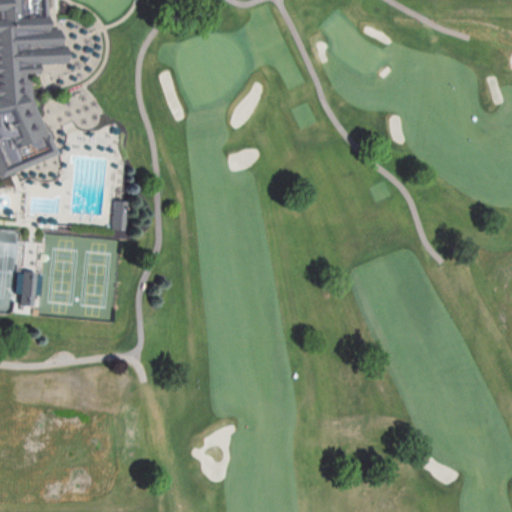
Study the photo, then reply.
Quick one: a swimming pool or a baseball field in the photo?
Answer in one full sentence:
Visible in the photo is a swimming pool.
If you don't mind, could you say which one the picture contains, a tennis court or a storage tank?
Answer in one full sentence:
Visible in the photo is a tennis court.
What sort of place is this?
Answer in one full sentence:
The picture captures a golf course.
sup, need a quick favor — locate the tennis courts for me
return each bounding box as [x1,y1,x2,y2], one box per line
[0,232,16,314]
[40,235,81,318]
[76,238,118,321]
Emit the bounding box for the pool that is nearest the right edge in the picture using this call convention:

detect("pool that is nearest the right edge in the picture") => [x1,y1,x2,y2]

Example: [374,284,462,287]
[70,156,106,222]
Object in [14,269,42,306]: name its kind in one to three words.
building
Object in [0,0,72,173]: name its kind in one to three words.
building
